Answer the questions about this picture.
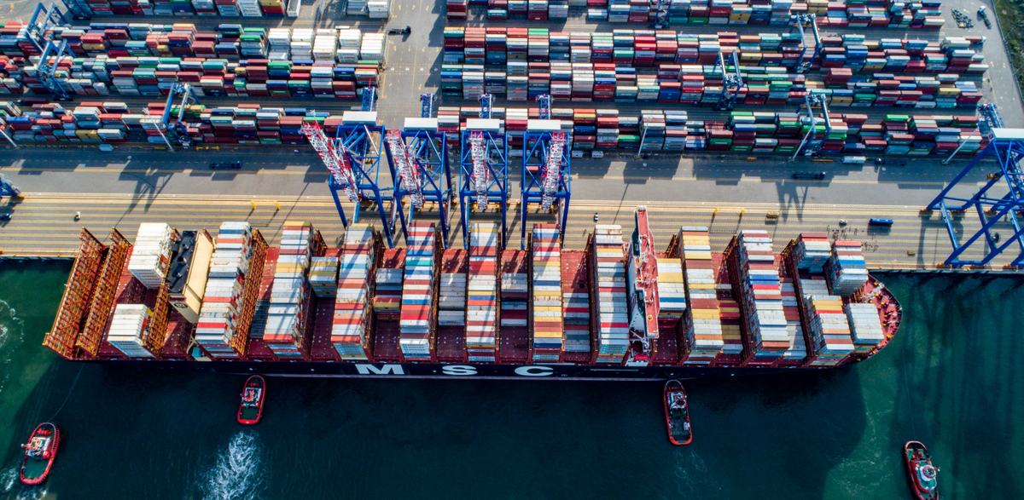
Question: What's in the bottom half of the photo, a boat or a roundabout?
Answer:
boat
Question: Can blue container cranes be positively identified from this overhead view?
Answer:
Yes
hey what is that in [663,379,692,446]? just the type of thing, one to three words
boat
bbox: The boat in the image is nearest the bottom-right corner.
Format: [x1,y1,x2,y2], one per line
[902,441,945,500]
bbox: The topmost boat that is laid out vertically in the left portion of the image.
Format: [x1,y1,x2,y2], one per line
[236,375,266,427]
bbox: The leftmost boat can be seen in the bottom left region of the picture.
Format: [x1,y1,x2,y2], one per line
[18,421,62,485]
